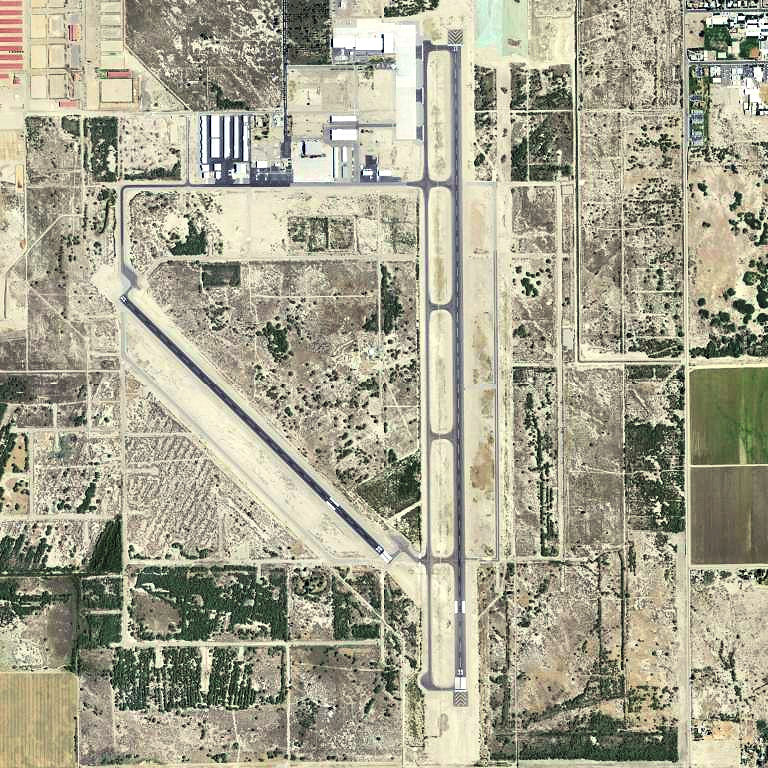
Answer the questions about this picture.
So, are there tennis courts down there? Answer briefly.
No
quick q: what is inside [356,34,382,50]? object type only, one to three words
hangar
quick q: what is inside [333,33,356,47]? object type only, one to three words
hangar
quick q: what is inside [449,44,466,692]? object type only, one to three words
runway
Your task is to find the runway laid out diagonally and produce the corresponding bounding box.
[118,292,393,564]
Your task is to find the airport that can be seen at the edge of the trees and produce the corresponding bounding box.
[118,19,468,706]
